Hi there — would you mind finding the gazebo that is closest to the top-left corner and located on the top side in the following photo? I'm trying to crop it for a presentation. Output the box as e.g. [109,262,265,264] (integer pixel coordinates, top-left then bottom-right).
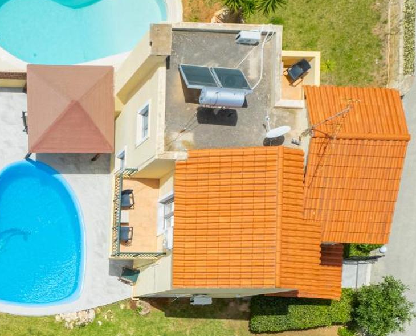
[23,63,115,161]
